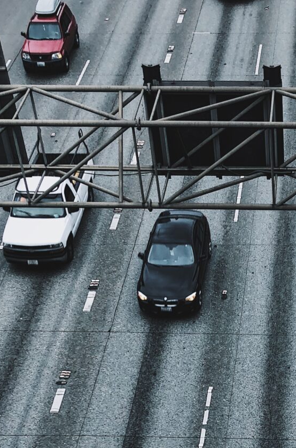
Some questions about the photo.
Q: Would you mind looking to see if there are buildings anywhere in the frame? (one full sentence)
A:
No, there is no building in the image.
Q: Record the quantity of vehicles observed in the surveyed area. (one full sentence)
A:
Looking from above, you can make out 3 vehicles.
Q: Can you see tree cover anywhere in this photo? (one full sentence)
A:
No, the scene doesn't show any tree cover.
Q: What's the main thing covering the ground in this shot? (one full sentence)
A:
For the most part, this view shows paved ground.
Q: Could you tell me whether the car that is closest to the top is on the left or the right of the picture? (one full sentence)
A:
You can find the car that is closest to the top on the left side of the picture.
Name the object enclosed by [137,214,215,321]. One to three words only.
car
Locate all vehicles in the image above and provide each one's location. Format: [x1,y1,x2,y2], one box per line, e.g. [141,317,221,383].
[137,214,215,321]
[2,130,91,267]
[18,2,80,71]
